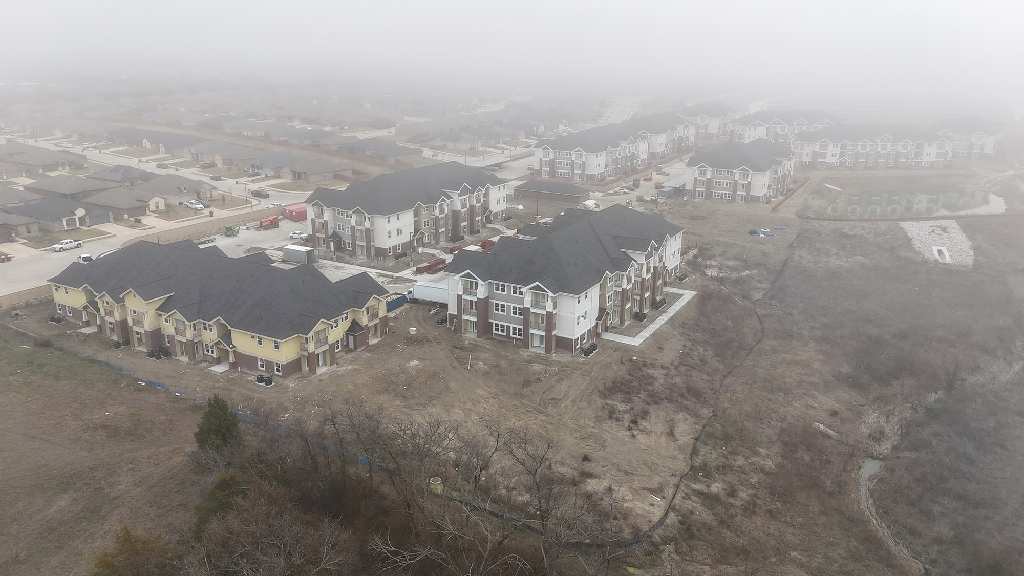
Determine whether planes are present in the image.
No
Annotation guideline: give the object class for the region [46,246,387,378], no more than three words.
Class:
building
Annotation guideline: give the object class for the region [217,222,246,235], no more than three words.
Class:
vehicle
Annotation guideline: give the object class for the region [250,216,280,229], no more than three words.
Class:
vehicle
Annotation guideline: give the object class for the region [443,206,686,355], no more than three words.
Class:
building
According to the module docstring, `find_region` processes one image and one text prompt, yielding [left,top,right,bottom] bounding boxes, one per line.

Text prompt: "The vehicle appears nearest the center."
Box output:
[406,278,447,305]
